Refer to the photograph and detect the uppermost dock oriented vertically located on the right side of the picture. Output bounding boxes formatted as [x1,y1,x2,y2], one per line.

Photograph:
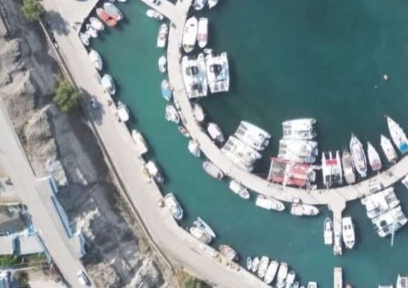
[326,202,346,255]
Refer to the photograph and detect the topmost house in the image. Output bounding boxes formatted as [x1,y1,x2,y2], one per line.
[0,203,25,231]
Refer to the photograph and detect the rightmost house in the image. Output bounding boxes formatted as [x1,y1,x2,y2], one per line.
[19,229,48,255]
